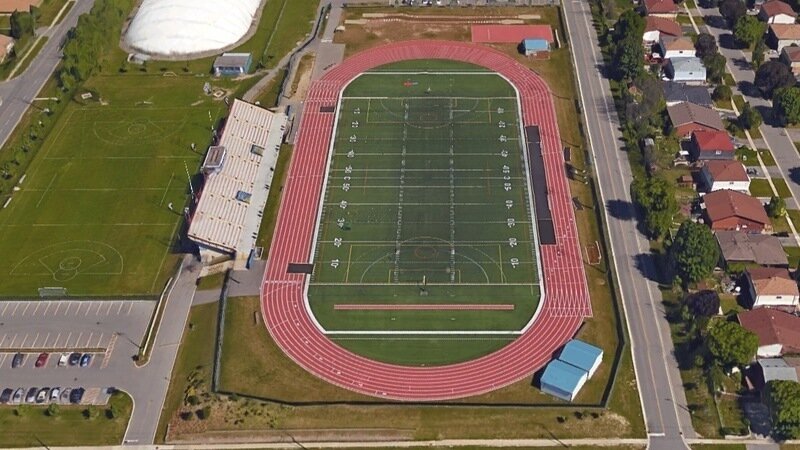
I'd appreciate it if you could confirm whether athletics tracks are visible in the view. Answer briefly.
Yes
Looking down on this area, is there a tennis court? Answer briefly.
No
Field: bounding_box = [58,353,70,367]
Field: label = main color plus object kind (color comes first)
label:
white vehicle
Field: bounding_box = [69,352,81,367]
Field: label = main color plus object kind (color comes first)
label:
black vehicle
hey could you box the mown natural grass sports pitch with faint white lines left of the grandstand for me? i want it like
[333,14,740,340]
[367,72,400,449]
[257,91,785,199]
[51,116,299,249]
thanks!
[0,106,212,295]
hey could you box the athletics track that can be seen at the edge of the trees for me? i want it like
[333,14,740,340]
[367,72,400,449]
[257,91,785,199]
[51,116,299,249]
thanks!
[263,40,590,399]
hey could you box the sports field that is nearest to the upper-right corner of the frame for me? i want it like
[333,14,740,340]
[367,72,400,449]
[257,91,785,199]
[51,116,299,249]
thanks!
[303,58,545,367]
